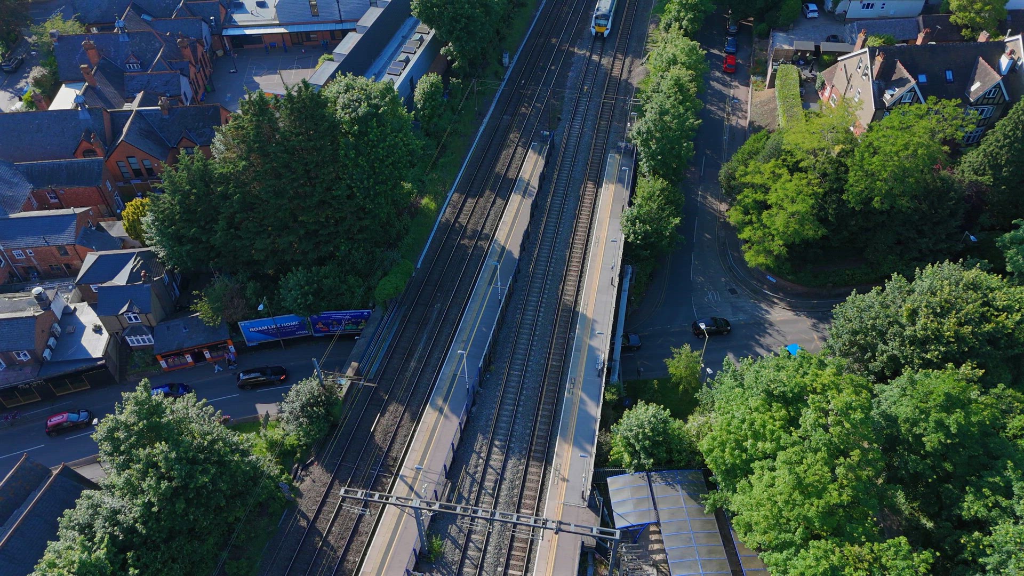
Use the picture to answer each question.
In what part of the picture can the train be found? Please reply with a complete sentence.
You can find the train in the top area of the picture.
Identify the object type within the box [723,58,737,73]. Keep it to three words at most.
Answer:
car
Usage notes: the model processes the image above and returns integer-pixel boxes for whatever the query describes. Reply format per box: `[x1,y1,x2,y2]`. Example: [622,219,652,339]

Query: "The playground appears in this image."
[218,42,340,126]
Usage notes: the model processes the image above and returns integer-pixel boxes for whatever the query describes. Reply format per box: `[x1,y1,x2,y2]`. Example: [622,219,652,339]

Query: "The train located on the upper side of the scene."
[592,0,619,38]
